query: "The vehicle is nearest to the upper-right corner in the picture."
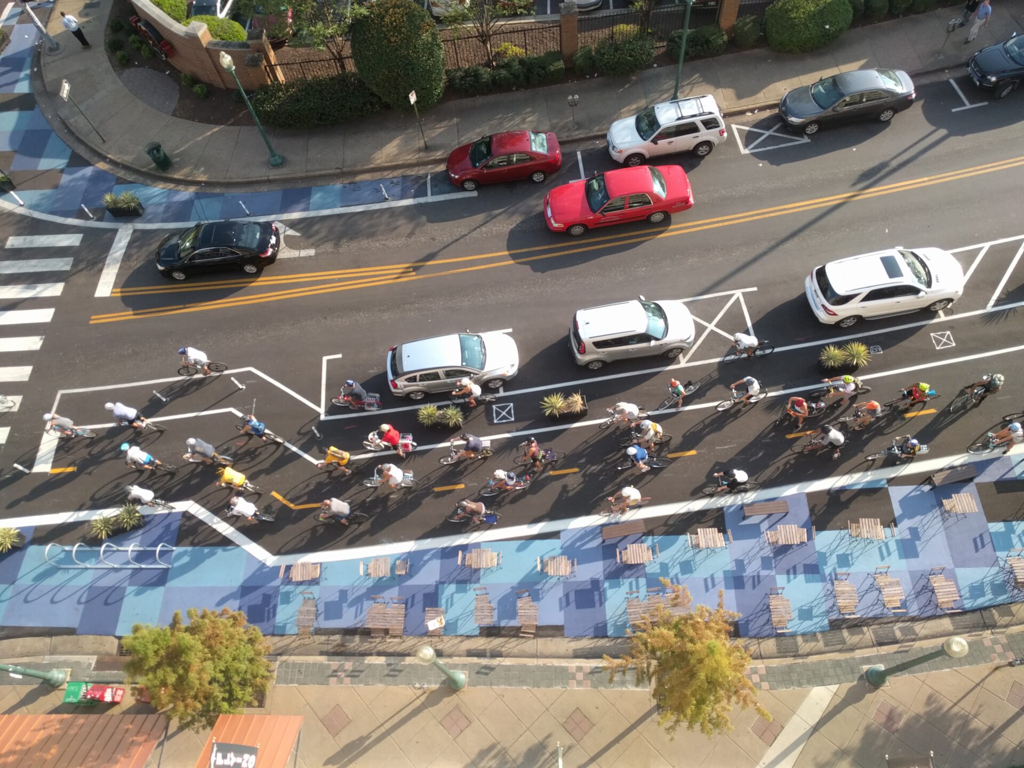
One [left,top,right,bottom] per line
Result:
[966,33,1024,99]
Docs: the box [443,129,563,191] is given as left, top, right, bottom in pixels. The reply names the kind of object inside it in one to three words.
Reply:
car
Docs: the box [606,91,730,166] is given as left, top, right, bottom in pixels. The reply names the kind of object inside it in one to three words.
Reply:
car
